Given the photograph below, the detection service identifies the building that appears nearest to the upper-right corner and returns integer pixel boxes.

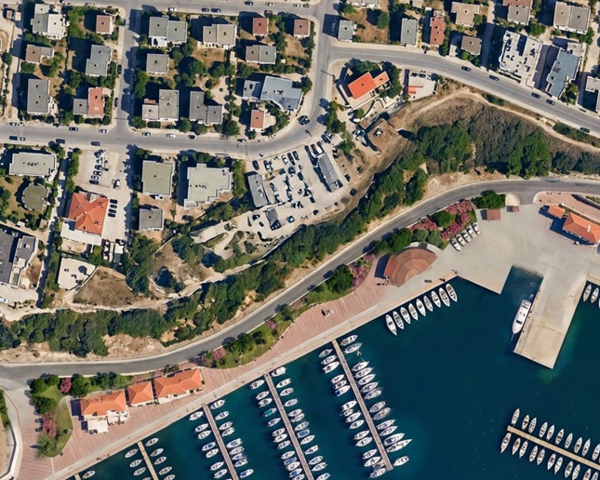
[552,1,592,38]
